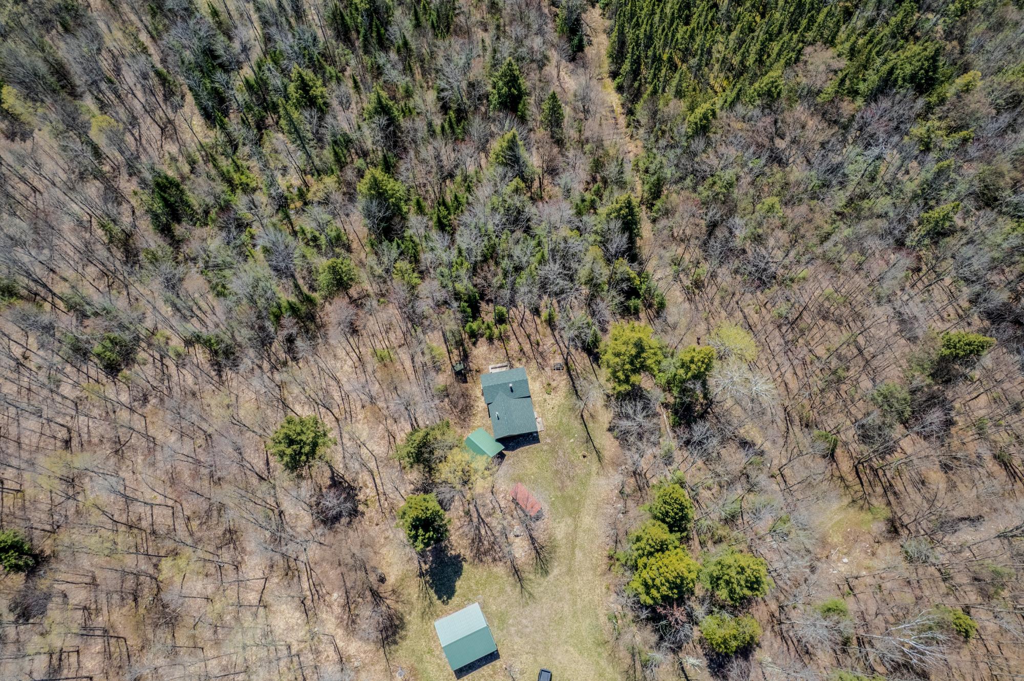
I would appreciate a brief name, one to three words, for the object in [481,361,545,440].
building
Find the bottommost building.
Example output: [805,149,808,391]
[434,602,497,672]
